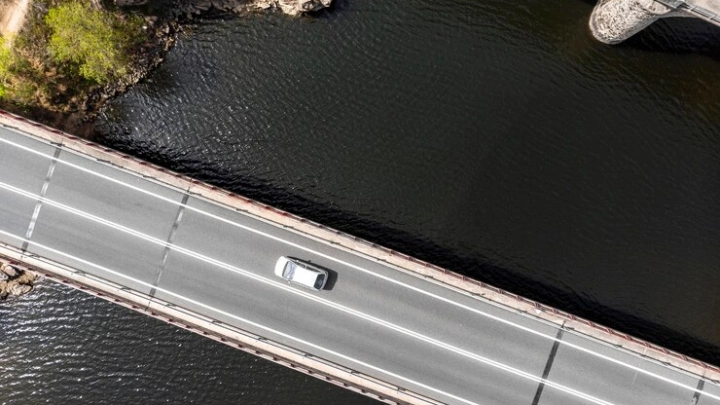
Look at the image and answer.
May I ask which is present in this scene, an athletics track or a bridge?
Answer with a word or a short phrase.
bridge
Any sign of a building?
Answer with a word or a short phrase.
No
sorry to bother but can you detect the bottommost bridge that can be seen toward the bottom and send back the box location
[0,107,720,405]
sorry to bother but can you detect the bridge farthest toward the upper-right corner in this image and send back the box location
[589,0,720,45]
